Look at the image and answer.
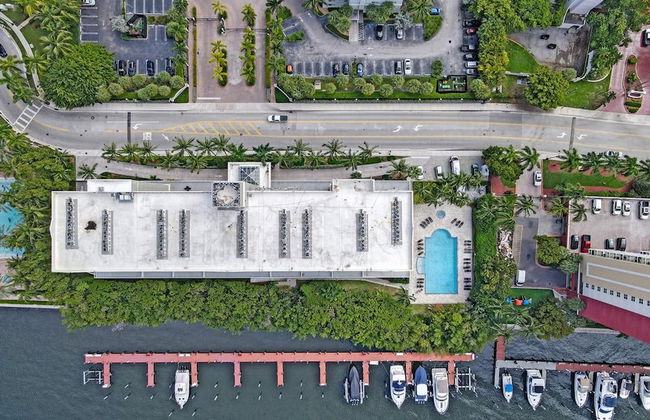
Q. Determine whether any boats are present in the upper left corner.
No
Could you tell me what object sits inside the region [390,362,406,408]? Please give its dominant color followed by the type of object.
white boat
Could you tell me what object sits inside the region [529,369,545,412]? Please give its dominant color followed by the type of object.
white boat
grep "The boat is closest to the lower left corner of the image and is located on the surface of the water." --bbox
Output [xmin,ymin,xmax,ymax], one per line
[175,365,190,409]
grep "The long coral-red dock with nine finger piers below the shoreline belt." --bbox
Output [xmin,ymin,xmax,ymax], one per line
[84,350,477,390]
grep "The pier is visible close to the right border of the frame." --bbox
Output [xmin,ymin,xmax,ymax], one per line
[492,334,650,393]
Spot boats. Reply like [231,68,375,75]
[432,364,449,415]
[619,374,632,399]
[175,365,190,409]
[595,372,620,420]
[415,366,427,406]
[573,371,590,408]
[639,374,650,414]
[348,365,361,407]
[390,362,406,408]
[529,369,545,412]
[502,370,514,402]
